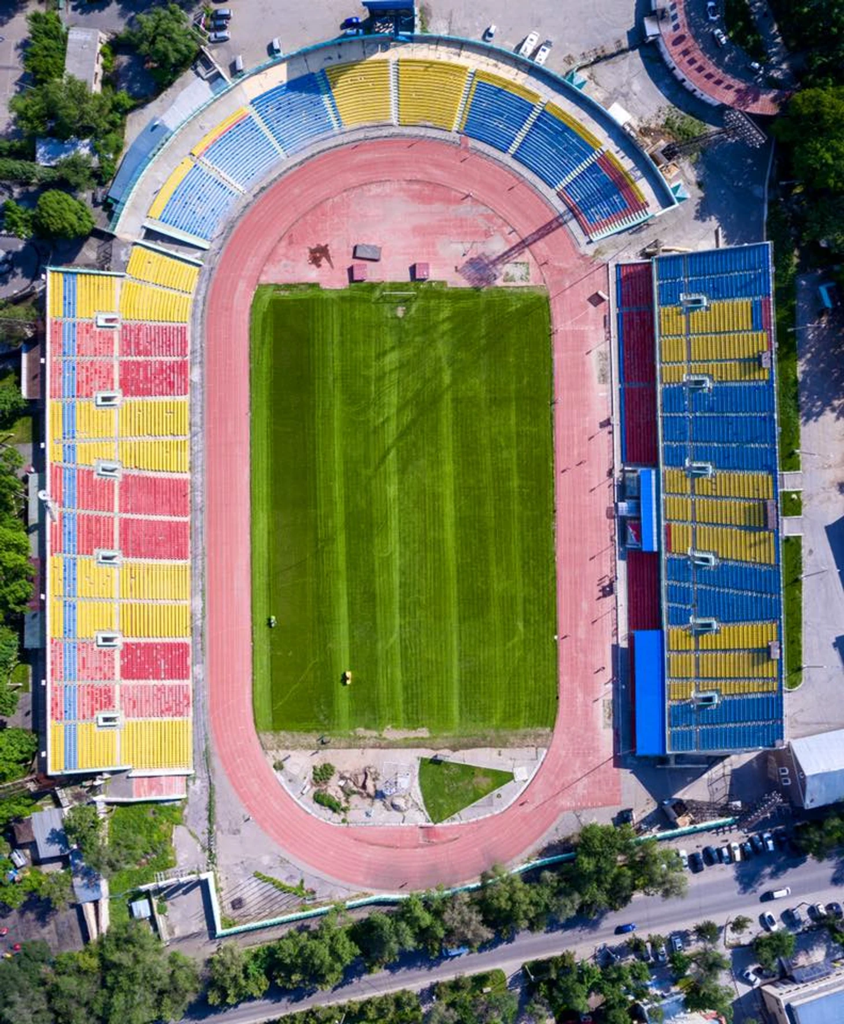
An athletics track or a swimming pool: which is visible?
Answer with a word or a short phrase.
athletics track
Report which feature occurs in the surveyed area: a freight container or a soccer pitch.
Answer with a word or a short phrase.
soccer pitch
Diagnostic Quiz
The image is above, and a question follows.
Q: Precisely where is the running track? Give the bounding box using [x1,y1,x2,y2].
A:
[206,138,621,890]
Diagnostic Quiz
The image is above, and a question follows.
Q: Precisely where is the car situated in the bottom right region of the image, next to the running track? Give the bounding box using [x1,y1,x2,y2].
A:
[620,807,632,829]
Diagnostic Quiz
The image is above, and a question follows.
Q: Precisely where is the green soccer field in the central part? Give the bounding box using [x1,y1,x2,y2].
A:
[251,282,558,751]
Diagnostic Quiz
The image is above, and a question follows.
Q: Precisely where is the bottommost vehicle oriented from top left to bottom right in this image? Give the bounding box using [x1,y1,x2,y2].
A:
[743,968,765,991]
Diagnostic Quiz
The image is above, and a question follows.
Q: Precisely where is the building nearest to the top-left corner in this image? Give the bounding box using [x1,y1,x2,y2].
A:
[64,27,109,96]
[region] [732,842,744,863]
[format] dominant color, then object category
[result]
white vehicle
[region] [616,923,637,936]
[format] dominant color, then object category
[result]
blue vehicle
